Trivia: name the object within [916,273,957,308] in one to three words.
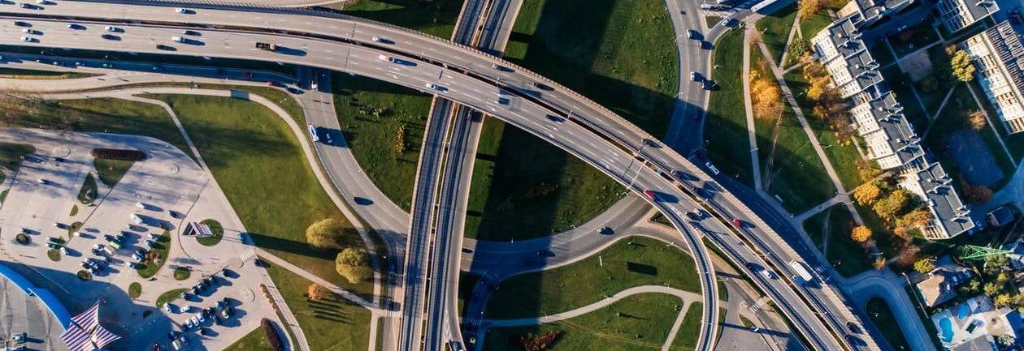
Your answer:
house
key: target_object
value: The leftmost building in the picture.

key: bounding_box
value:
[0,261,87,351]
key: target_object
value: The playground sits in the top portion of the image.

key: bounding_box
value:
[902,48,934,81]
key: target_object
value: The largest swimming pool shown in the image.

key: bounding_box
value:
[940,316,954,346]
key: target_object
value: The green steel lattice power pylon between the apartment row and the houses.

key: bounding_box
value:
[957,244,1007,260]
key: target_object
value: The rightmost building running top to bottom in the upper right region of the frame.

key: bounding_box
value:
[966,13,1024,146]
